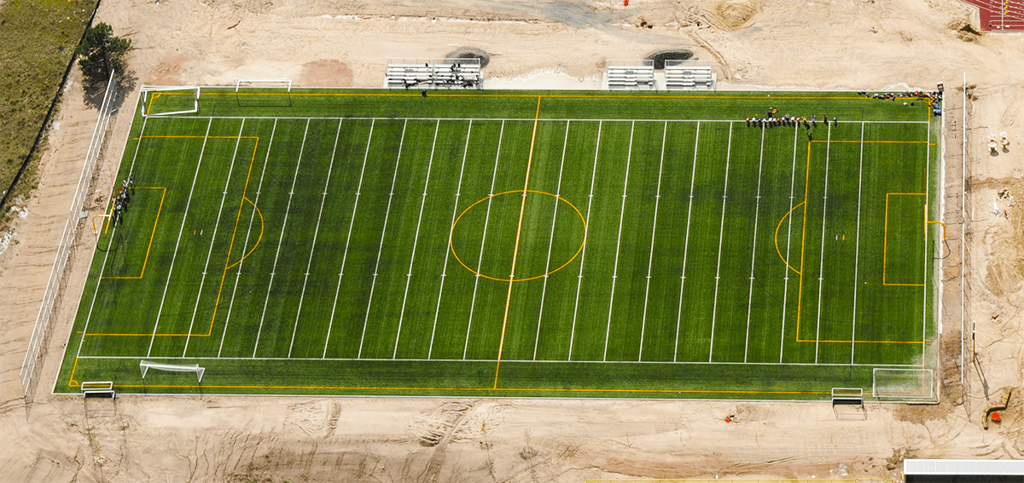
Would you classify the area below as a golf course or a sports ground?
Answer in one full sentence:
The area seen from above is a sports ground.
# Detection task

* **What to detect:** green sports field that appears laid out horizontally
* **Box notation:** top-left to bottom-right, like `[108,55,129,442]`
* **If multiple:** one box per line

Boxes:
[52,85,944,403]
